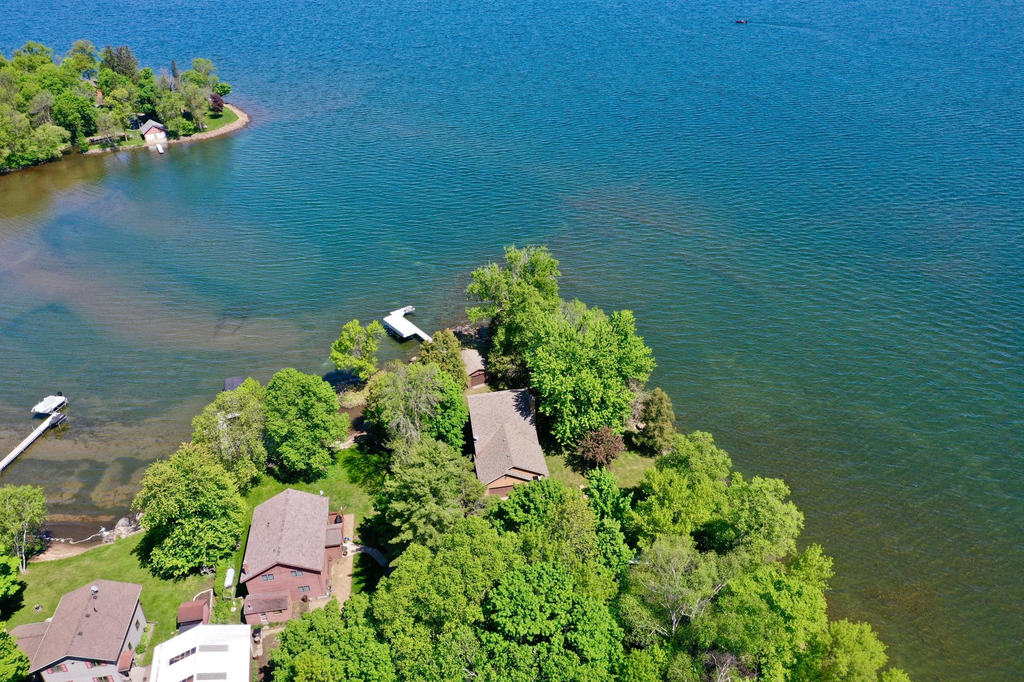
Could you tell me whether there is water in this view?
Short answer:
Yes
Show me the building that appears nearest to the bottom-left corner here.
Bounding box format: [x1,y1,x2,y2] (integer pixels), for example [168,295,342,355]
[11,577,151,682]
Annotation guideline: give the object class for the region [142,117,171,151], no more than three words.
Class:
building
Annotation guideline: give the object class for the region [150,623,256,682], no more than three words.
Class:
barn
